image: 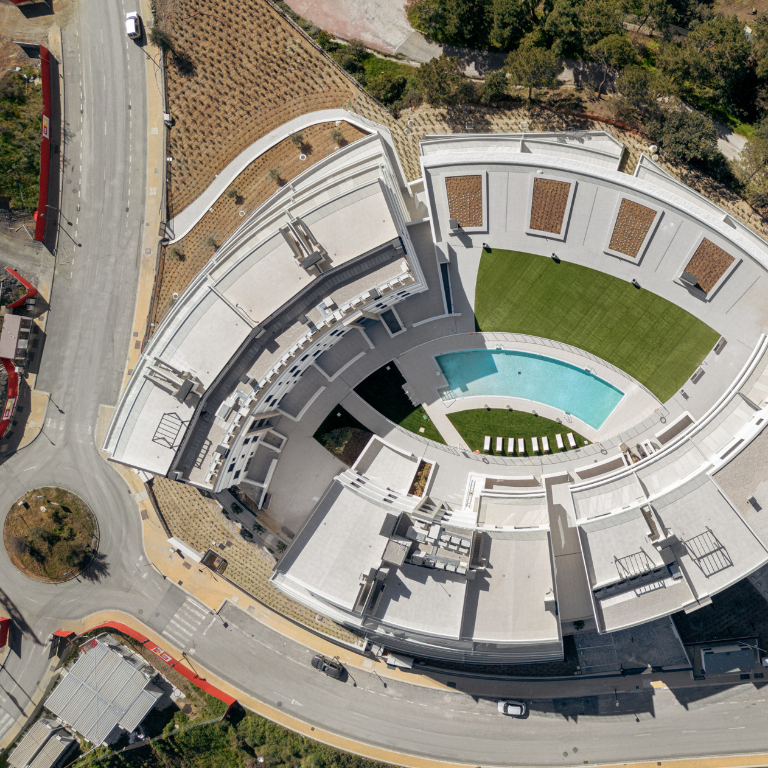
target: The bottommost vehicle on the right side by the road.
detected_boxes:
[494,702,527,720]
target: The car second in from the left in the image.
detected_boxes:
[307,650,343,679]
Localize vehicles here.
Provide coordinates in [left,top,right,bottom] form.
[307,650,343,679]
[119,8,138,41]
[494,702,527,720]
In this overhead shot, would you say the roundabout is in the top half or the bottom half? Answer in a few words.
bottom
